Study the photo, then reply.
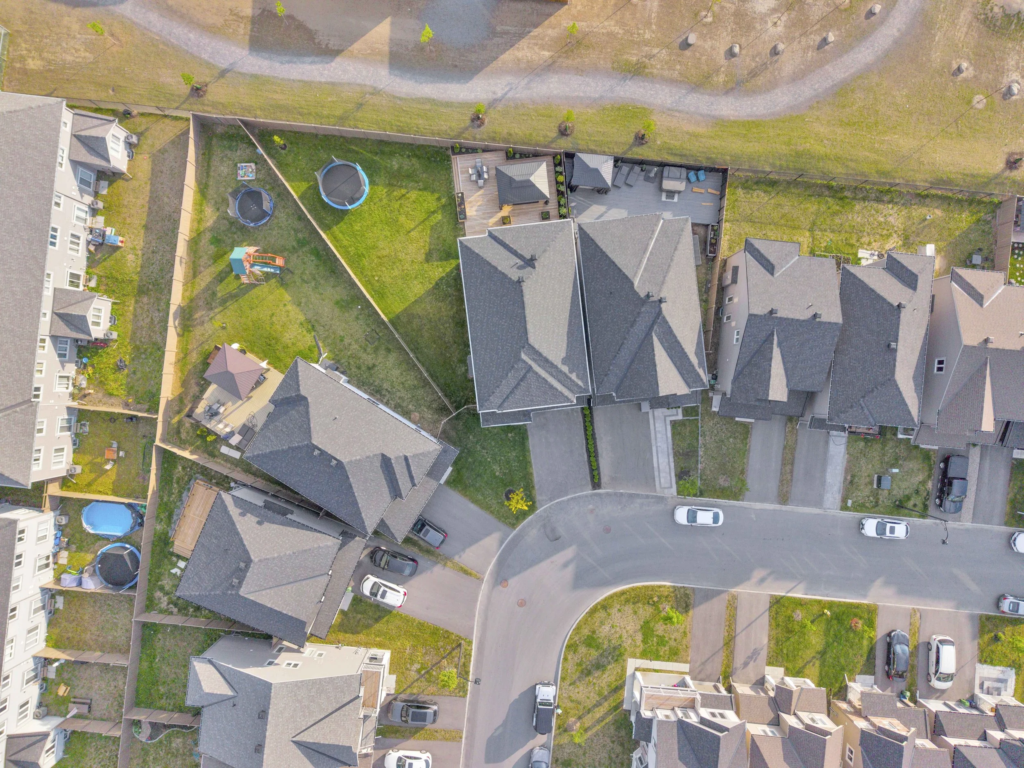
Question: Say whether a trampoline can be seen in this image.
Yes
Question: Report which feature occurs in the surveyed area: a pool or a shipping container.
pool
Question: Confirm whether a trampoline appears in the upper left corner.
Yes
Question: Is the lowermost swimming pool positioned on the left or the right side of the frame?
left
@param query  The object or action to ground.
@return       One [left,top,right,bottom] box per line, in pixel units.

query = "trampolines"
[314,155,371,212]
[86,540,141,596]
[229,183,277,227]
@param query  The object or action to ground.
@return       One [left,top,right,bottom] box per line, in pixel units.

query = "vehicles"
[358,575,410,609]
[936,454,970,515]
[528,745,550,768]
[1007,531,1024,552]
[409,514,450,552]
[368,549,421,581]
[673,505,724,528]
[858,516,912,540]
[384,749,432,768]
[885,629,913,682]
[927,635,957,688]
[388,696,439,725]
[995,592,1024,615]
[532,682,557,737]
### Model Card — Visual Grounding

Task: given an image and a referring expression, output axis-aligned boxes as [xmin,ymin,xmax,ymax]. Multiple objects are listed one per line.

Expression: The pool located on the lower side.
[80,500,144,536]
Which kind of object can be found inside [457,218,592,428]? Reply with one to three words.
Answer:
house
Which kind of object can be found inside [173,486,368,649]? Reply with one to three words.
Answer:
house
